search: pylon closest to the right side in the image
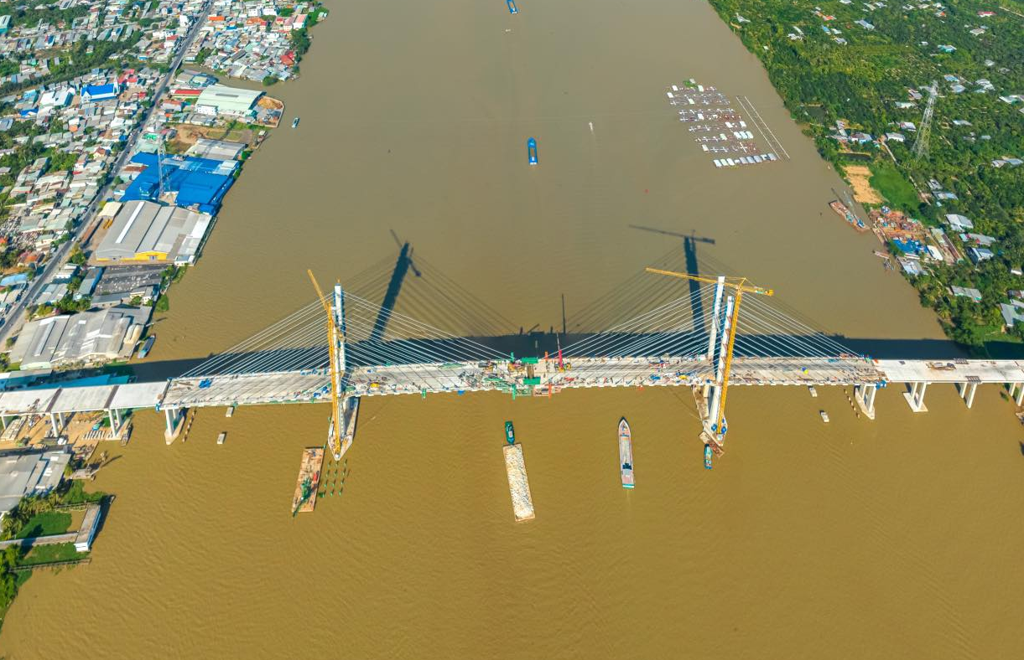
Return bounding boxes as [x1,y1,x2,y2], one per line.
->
[912,80,941,160]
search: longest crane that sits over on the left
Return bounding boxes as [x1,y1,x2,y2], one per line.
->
[302,266,342,448]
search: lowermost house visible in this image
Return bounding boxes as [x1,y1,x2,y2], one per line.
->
[75,504,105,550]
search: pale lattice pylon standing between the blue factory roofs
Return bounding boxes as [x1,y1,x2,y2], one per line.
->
[151,137,169,197]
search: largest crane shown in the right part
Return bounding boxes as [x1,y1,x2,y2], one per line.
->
[647,265,773,437]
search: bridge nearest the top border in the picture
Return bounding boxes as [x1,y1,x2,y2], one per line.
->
[0,274,1024,464]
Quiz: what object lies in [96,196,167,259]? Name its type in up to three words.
building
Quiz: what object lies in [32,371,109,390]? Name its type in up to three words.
shed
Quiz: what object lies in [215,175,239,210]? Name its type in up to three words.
building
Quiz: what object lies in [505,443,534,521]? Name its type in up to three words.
ship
